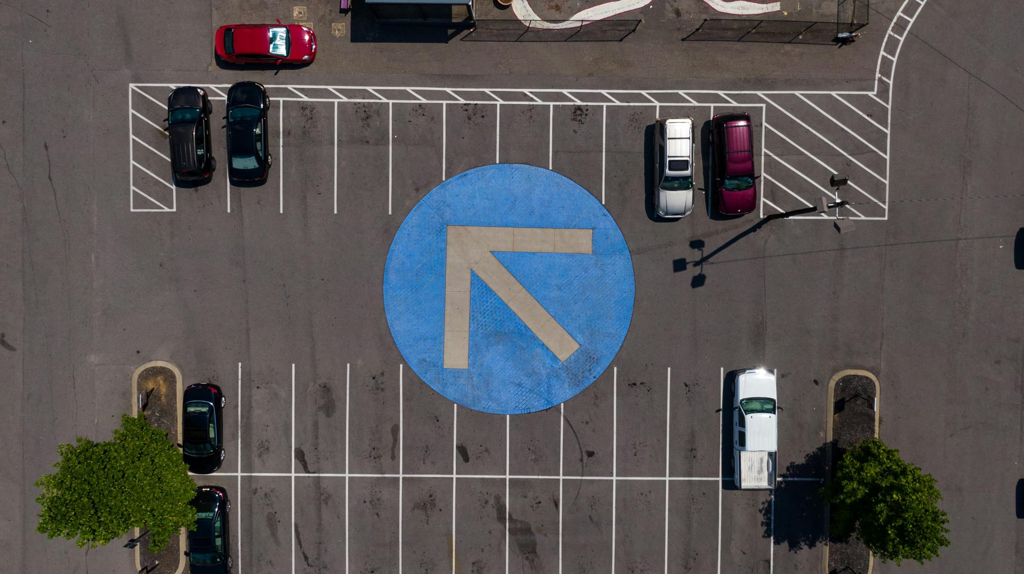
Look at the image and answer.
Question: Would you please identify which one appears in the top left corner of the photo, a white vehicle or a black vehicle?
black vehicle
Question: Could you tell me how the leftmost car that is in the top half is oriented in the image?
from top to bottom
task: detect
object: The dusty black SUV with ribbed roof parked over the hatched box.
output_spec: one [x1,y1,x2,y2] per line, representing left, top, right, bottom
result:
[165,88,218,183]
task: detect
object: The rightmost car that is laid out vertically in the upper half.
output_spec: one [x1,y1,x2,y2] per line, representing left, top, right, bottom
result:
[710,113,762,215]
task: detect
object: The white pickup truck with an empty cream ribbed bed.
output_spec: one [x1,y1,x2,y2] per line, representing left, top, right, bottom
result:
[731,368,783,491]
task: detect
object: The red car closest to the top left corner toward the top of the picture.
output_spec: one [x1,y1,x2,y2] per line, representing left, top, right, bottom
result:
[214,19,318,66]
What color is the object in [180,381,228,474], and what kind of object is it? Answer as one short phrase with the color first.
black car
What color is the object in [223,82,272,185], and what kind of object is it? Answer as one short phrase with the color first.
black car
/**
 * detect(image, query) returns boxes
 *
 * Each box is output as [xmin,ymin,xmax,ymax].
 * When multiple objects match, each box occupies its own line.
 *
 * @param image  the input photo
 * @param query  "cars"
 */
[186,483,235,574]
[652,118,699,218]
[223,82,272,185]
[180,381,228,474]
[165,88,218,183]
[710,113,762,215]
[214,19,318,66]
